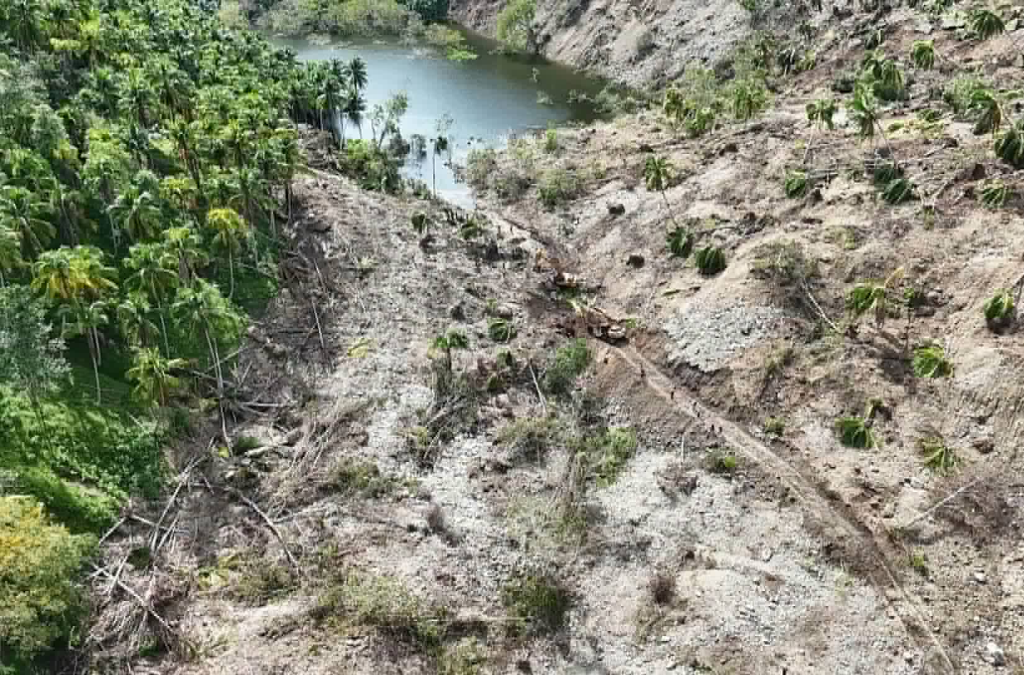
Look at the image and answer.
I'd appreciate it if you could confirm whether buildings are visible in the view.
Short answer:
No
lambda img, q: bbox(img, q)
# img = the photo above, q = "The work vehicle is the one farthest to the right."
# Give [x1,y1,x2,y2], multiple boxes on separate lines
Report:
[584,306,629,342]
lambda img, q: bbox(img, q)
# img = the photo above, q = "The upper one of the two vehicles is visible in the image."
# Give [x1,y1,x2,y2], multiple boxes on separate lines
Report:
[546,254,583,289]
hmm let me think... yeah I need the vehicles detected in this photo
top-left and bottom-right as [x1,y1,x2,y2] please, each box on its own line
[546,254,583,289]
[584,306,629,342]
